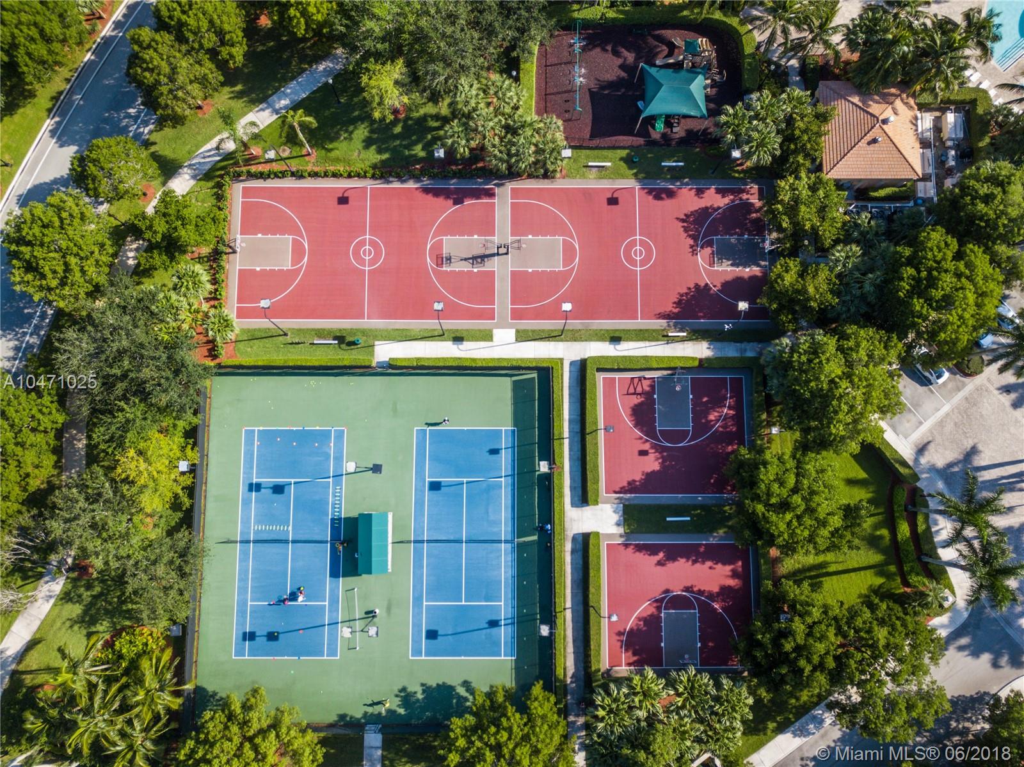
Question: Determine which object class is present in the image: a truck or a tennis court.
tennis court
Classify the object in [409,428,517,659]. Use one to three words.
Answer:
tennis court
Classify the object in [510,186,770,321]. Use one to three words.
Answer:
basketball court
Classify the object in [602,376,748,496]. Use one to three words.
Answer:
basketball court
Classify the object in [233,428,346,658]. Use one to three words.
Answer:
tennis court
